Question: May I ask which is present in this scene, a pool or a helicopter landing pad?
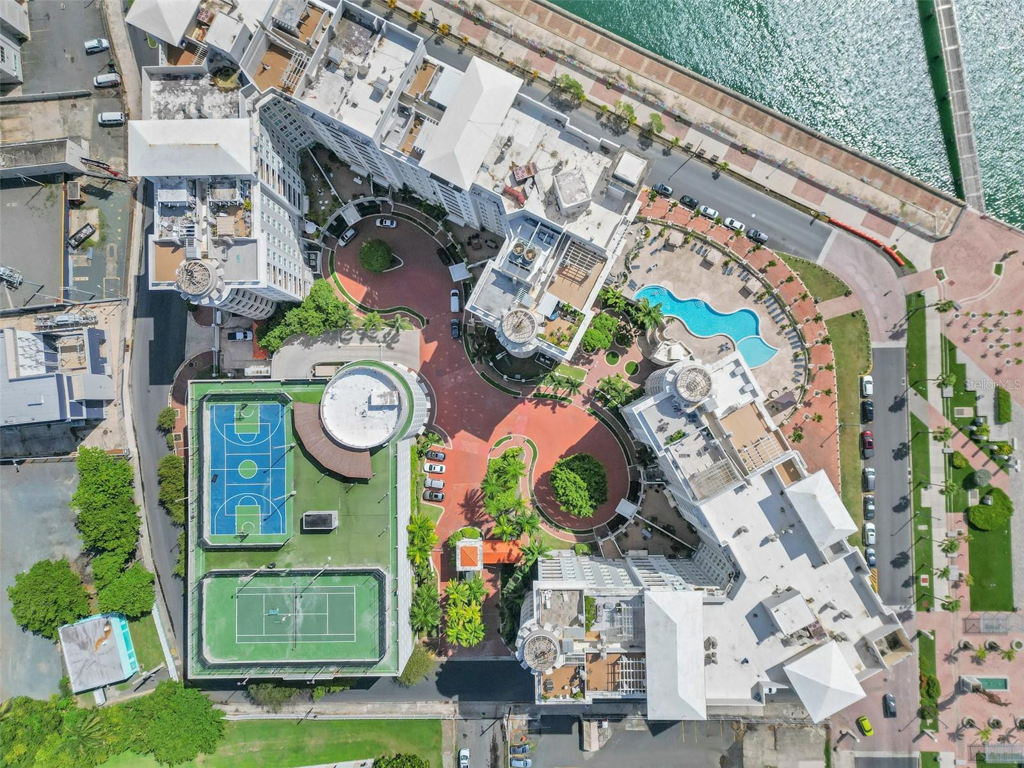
pool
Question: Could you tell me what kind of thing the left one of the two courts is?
basketball court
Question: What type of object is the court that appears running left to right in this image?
tennis court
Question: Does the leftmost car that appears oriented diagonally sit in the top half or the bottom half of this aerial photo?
top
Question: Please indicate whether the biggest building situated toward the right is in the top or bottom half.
bottom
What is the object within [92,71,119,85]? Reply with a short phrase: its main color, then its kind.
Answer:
white vehicle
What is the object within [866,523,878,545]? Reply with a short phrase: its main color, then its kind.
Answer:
white vehicle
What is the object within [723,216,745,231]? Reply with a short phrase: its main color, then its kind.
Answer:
white car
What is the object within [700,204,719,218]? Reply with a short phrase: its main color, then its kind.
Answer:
white car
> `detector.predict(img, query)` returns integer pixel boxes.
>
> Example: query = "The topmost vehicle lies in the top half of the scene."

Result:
[82,37,107,51]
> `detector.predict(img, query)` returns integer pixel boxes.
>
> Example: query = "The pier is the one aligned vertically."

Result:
[925,0,984,212]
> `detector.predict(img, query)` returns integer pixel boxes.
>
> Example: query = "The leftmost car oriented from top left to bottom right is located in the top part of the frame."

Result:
[435,244,452,266]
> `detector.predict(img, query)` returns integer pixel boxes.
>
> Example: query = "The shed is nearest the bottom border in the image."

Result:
[582,712,599,751]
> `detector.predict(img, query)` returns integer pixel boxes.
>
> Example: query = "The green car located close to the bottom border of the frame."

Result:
[858,718,873,737]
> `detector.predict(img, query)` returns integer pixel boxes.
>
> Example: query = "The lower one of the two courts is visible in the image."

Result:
[204,576,382,663]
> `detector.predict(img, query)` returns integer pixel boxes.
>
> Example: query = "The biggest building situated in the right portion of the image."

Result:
[508,348,915,722]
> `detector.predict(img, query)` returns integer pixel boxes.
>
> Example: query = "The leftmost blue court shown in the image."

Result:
[204,401,287,544]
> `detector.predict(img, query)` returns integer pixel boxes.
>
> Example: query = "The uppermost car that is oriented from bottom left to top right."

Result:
[336,226,356,246]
